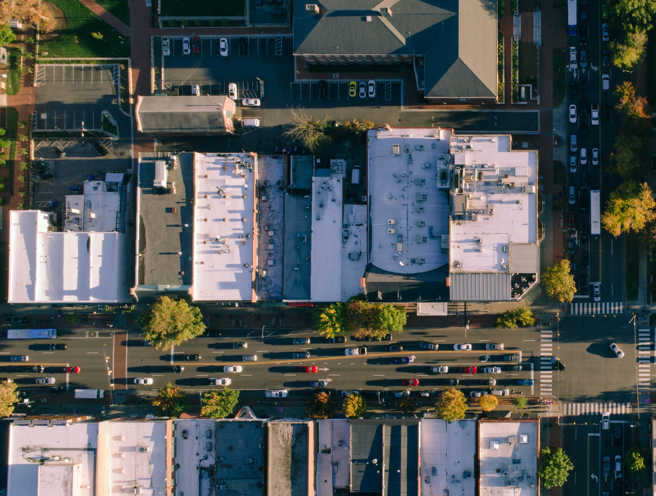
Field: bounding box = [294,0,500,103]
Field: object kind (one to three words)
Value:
building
